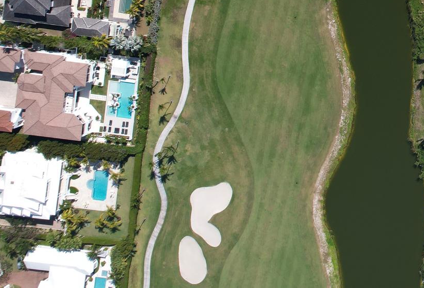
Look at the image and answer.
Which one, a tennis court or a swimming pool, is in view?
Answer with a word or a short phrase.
swimming pool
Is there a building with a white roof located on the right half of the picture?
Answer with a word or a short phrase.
No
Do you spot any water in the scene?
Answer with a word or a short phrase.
Yes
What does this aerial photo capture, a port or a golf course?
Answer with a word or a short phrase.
golf course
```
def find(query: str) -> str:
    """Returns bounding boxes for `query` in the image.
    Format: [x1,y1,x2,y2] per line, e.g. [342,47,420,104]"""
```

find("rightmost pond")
[325,0,424,288]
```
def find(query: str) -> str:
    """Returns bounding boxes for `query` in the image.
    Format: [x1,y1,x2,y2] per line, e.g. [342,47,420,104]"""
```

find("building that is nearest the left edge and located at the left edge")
[0,110,18,133]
